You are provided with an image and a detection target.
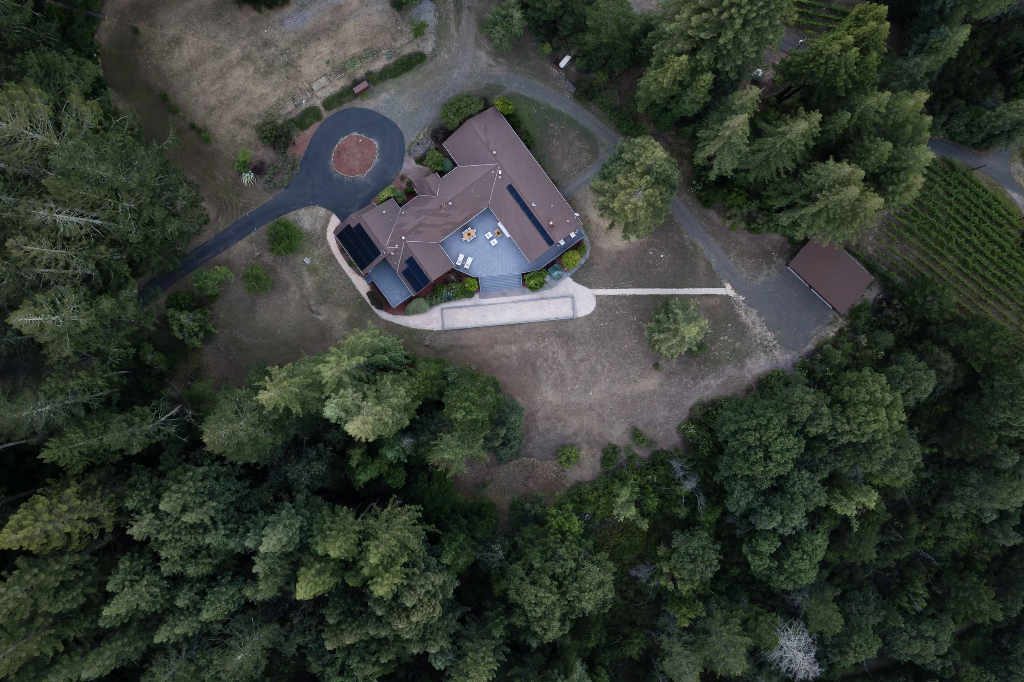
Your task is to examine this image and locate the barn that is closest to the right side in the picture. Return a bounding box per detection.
[785,241,874,325]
